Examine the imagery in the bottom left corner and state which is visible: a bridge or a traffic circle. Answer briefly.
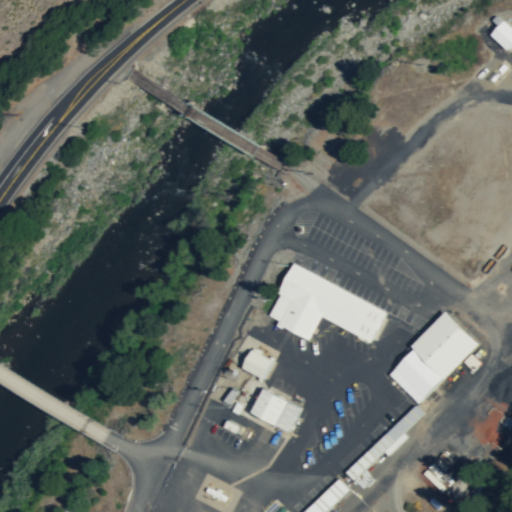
bridge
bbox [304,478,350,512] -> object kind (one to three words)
shed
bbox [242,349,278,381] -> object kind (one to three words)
building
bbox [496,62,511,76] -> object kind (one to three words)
vehicle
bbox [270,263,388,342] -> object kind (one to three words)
building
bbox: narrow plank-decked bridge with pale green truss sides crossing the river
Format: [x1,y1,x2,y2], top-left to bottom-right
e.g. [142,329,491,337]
[129,68,284,173]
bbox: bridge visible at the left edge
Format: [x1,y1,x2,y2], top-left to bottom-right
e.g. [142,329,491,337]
[0,364,116,446]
